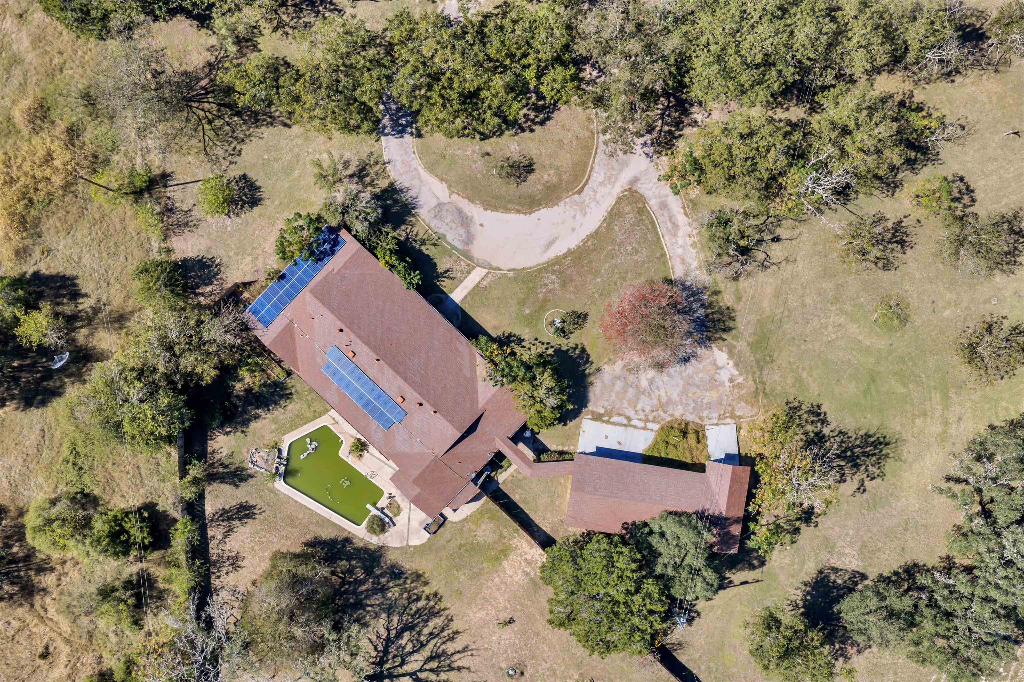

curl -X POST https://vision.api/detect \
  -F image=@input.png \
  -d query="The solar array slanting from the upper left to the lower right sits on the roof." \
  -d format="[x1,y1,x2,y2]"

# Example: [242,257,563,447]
[321,345,406,431]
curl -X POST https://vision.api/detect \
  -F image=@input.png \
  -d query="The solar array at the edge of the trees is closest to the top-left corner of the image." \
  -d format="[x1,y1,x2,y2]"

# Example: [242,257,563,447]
[248,224,345,326]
